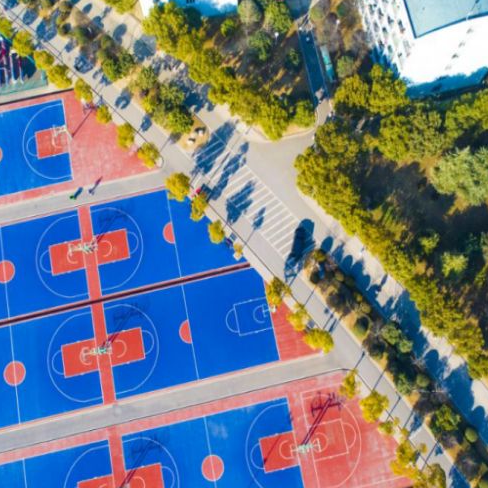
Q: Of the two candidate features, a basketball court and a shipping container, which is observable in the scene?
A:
basketball court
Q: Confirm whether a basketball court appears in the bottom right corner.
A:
Yes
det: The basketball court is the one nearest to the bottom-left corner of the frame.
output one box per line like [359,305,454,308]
[0,439,115,488]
